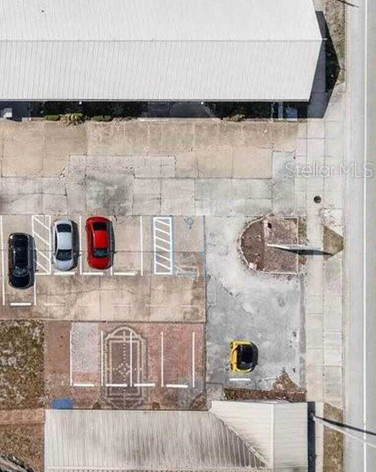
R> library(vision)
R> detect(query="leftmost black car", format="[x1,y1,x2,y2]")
[10,235,38,289]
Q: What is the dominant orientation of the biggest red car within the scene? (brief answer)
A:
vertically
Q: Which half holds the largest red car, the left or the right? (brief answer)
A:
left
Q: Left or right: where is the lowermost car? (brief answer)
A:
right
